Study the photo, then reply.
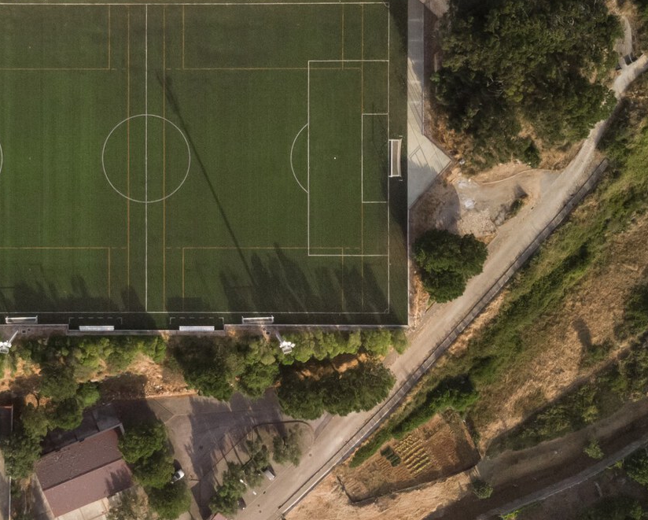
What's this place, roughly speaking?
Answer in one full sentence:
The picture captures a sports ground.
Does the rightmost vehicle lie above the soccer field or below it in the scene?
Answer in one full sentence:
It's below the soccer field that the rightmost vehicle shows up.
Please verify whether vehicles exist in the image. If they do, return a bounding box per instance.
[258,465,280,485]
[172,468,187,484]
[234,497,249,515]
